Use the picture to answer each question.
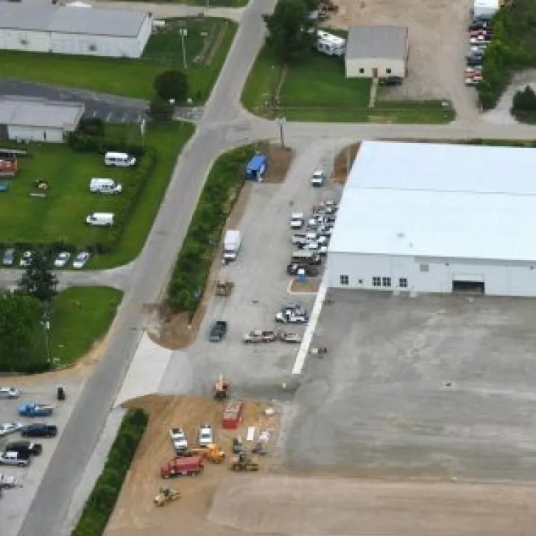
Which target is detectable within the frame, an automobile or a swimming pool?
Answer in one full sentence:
The image shows an automobile.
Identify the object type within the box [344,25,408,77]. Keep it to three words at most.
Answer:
building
